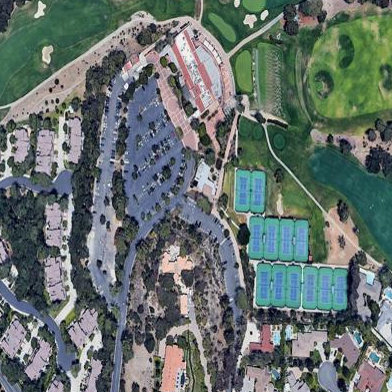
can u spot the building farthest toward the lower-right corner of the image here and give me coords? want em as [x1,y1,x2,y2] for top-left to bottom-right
[358,361,387,392]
